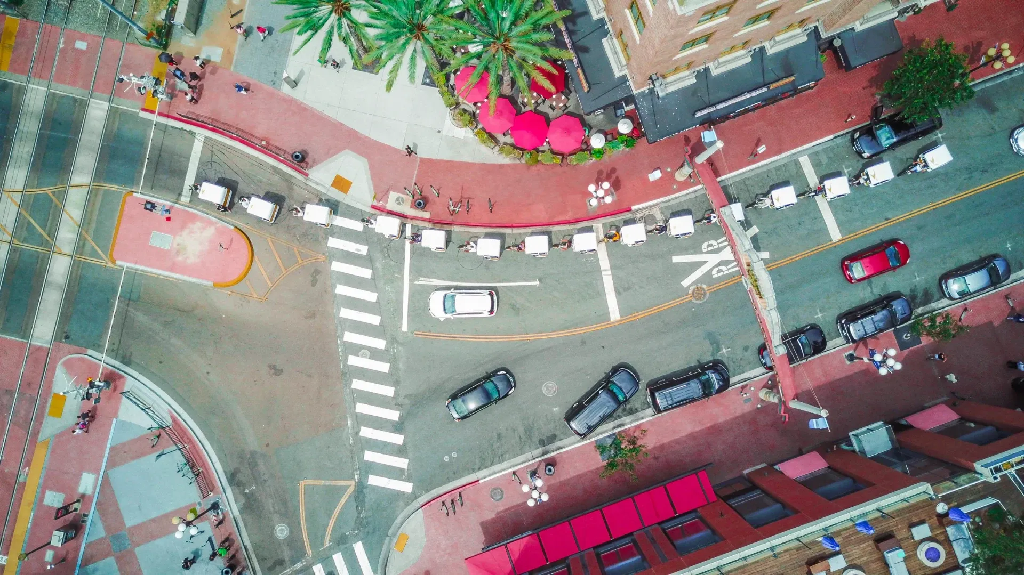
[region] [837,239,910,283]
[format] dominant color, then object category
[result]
red car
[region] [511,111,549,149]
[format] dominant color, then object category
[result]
pink umbrella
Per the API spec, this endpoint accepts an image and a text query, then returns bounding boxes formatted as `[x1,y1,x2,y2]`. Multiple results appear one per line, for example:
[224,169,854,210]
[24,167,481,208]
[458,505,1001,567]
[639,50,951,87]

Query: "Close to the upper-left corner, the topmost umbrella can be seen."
[157,50,173,67]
